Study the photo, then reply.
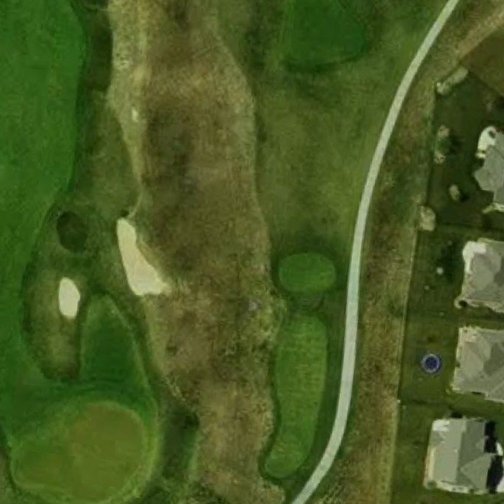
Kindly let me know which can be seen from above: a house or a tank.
house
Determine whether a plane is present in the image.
No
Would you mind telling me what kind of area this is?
golf course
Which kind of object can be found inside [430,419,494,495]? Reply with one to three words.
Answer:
house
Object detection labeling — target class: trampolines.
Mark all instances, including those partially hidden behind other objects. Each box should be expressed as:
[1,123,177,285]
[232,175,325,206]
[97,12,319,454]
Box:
[422,353,440,372]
